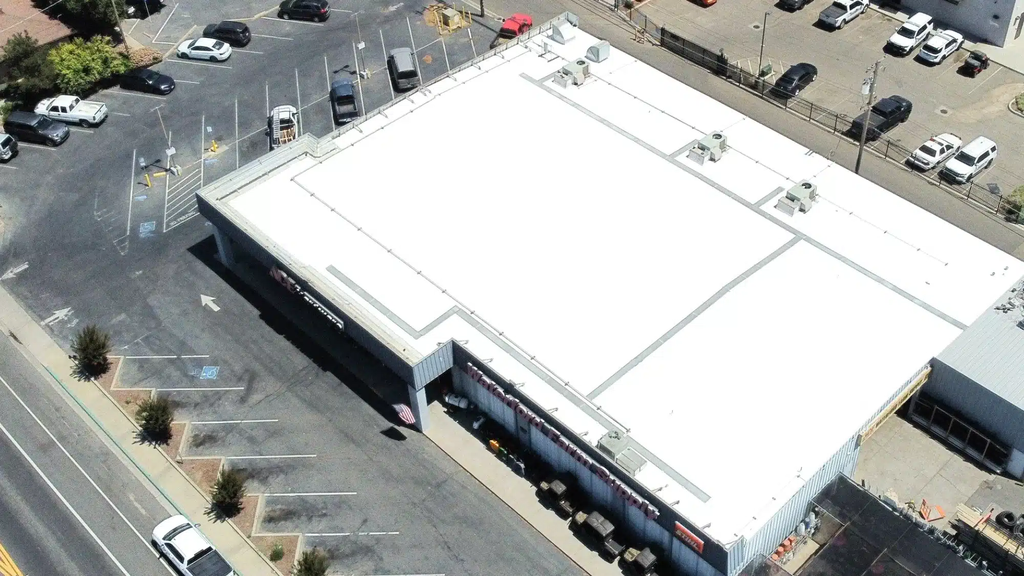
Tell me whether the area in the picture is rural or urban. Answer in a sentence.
The area shown here is urban.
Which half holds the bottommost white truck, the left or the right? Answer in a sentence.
The bottommost white truck is on the left side of the image.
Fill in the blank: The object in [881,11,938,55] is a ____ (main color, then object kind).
white car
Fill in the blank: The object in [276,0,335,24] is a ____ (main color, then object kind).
black car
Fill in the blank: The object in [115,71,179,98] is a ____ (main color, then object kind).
black car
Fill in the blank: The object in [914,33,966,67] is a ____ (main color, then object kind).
white car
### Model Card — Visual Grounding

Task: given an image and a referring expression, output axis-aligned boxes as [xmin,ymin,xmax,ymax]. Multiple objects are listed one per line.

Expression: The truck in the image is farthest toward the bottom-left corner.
[154,516,242,576]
